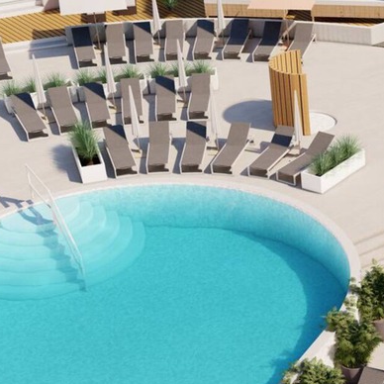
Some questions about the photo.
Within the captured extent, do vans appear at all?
No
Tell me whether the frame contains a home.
No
